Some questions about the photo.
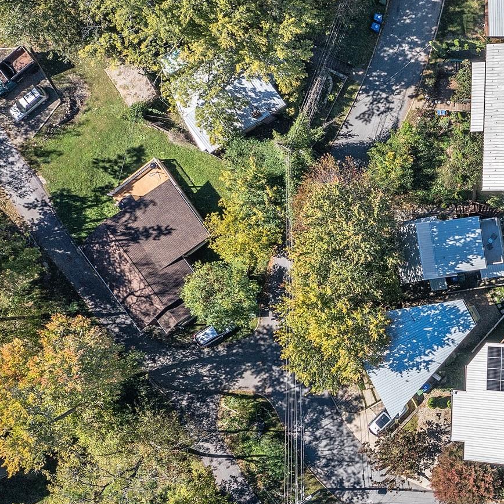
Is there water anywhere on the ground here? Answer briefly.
No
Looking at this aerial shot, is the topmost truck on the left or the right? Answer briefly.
left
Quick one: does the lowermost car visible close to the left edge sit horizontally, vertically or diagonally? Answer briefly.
diagonally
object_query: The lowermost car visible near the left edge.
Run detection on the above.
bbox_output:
[6,85,55,123]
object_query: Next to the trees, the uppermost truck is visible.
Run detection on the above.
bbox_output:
[0,43,48,100]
